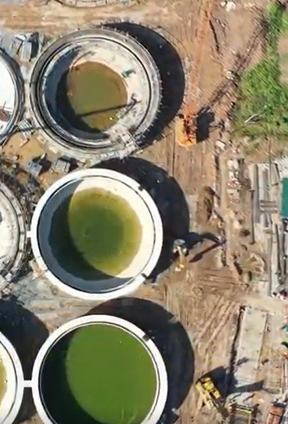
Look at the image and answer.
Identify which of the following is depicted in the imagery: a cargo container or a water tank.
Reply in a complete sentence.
It is a water tank that can be seen here.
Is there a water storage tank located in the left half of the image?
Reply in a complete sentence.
Yes, a water storage tank shows up in the left half of the image.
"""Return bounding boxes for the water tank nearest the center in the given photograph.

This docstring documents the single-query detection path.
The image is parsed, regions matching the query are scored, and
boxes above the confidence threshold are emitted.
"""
[29,169,162,301]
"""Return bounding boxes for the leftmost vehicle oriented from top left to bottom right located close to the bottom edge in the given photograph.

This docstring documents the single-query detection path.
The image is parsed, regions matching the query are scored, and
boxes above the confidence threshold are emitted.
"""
[186,373,234,418]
